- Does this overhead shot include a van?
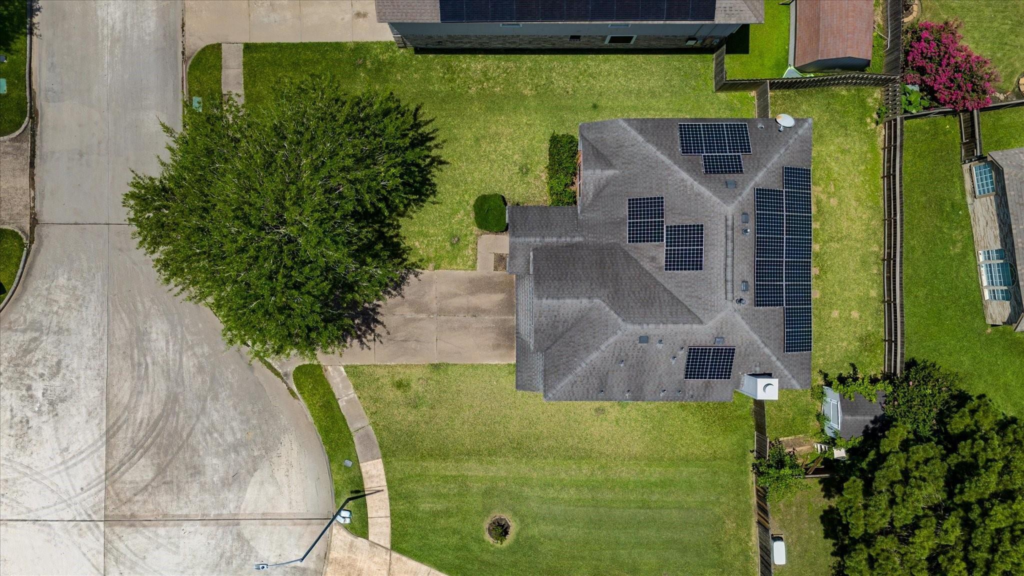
No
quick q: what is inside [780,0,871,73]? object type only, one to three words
shed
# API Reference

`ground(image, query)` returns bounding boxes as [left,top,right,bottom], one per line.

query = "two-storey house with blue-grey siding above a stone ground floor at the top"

[377,0,764,49]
